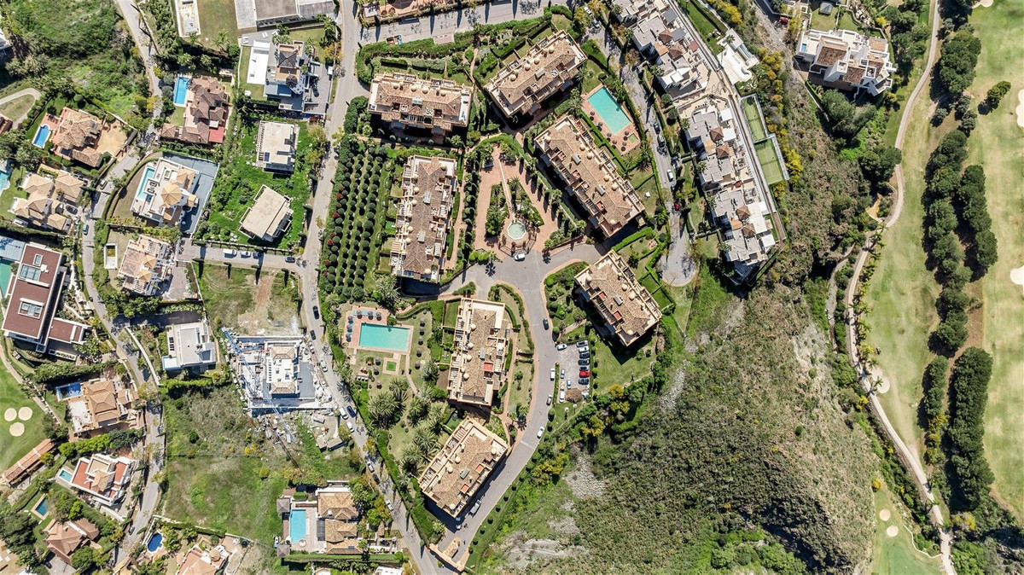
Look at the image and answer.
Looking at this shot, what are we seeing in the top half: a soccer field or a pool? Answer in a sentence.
The feature located in the top half is a pool.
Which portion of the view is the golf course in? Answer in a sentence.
The golf course appears toward the right of the photo.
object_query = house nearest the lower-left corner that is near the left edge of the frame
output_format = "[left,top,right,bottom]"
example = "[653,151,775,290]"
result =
[45,514,106,565]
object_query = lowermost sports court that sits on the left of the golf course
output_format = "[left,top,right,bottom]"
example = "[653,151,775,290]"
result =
[753,134,789,185]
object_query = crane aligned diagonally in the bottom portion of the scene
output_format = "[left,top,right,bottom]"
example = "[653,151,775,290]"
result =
[221,327,296,437]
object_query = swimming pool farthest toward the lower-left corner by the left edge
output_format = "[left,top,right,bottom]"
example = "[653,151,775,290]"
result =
[32,496,54,519]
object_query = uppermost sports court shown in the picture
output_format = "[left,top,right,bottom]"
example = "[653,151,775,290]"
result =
[741,95,769,143]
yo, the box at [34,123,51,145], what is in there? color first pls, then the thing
blue swimming pool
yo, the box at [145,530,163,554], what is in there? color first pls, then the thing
blue swimming pool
